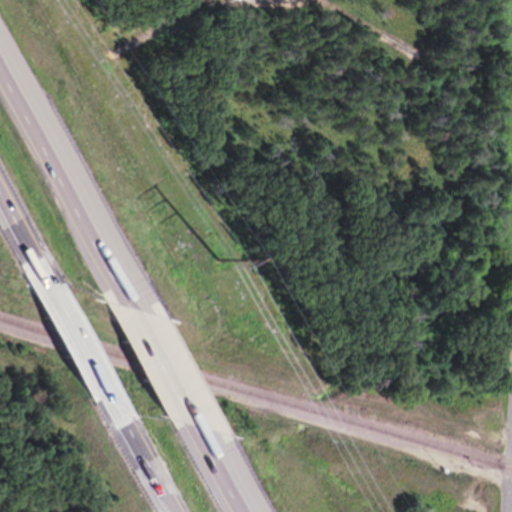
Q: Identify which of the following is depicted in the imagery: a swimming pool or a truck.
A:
truck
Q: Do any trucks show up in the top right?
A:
No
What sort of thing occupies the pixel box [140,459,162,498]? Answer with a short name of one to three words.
truck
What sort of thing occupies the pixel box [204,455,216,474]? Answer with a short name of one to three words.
vehicle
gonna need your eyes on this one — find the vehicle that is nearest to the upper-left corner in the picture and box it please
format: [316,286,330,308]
[44,160,56,178]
